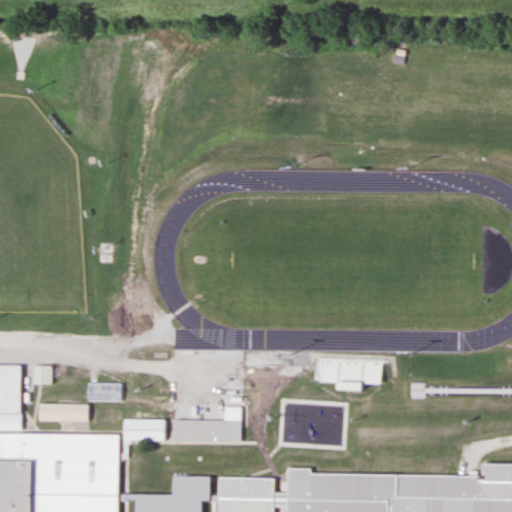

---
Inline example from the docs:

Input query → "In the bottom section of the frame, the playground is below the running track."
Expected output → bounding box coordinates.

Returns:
[278,398,349,450]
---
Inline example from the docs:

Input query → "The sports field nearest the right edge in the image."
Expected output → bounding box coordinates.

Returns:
[176,192,512,329]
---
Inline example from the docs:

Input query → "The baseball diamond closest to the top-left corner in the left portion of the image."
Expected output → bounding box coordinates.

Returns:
[0,93,88,314]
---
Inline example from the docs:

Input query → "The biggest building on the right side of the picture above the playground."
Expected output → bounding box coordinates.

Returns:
[314,358,383,393]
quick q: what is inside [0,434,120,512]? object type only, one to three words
building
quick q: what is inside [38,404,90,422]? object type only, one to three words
shed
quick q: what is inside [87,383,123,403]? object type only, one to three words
greenhouse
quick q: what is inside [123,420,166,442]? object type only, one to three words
building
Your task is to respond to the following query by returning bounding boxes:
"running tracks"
[154,170,512,351]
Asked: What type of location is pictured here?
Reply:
sports ground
